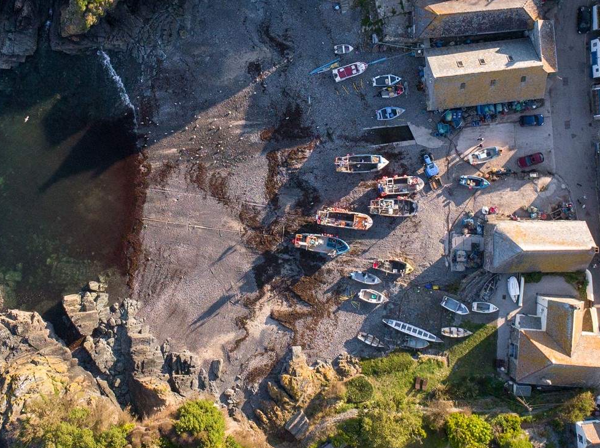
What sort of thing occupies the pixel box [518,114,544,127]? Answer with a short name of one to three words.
vehicle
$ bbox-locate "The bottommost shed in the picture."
[284,407,310,441]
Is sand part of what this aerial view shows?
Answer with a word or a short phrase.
Yes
